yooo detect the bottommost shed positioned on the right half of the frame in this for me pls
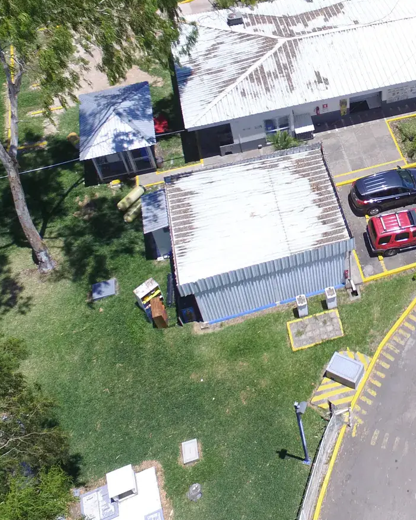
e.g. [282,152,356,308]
[164,148,358,318]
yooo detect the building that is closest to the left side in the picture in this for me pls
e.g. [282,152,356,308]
[78,81,157,181]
